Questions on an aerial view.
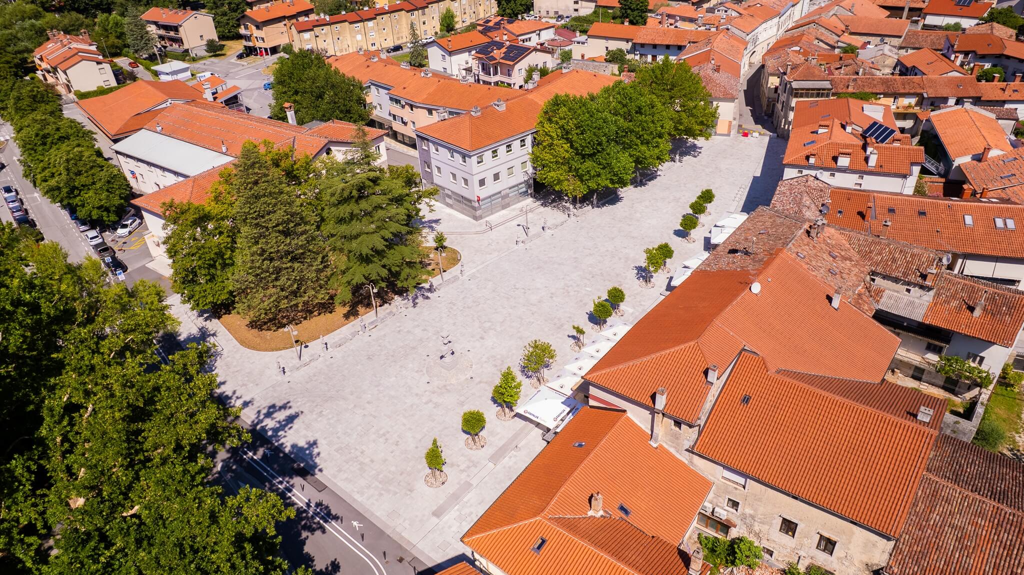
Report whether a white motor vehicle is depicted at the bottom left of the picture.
No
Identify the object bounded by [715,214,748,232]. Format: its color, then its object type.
white umbrella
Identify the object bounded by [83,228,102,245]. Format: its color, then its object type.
white car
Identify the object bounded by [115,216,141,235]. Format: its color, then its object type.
white car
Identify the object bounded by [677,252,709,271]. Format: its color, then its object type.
white umbrella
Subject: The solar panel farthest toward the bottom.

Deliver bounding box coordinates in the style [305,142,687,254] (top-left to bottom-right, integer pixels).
[861,121,896,144]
